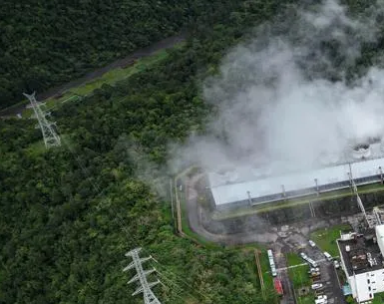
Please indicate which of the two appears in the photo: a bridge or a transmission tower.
transmission tower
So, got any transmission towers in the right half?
No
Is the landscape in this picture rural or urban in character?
rural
